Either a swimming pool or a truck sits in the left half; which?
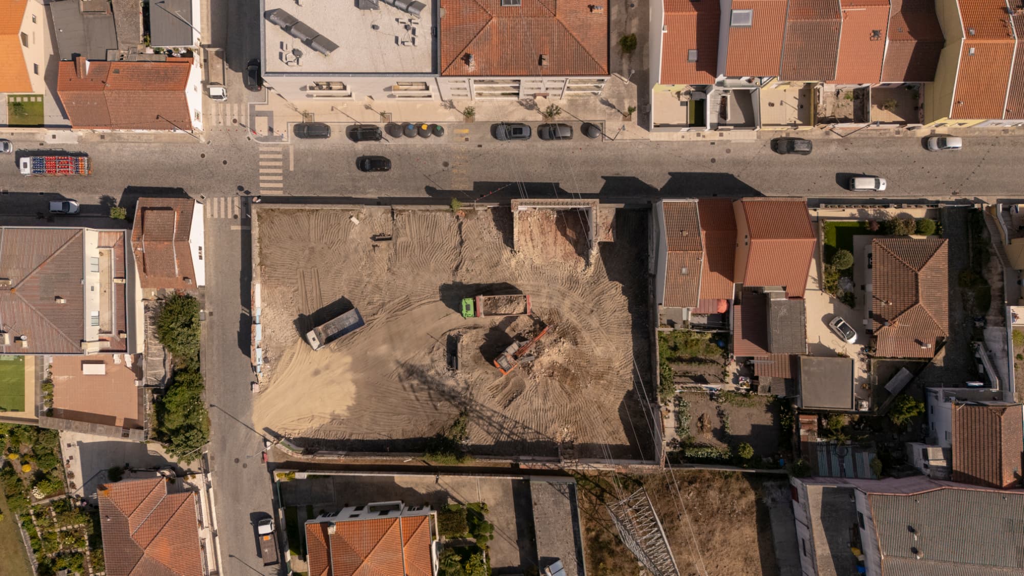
truck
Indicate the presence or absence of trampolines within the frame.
No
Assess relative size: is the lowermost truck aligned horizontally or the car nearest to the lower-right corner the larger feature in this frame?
the truck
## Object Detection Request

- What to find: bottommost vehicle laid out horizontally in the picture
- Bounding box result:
[461,295,536,319]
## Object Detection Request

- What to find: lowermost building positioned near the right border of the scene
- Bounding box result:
[844,474,1024,576]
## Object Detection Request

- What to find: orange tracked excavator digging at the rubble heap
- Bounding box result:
[488,312,559,379]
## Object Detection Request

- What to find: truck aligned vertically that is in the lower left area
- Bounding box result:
[254,513,283,568]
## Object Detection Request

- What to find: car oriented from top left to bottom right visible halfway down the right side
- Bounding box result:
[827,312,859,348]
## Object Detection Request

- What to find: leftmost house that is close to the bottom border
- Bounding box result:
[97,469,218,576]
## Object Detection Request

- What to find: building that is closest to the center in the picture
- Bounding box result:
[511,198,624,269]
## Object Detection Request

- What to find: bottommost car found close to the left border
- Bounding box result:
[46,199,82,215]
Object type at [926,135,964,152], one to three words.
car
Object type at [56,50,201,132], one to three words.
house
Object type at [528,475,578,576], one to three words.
building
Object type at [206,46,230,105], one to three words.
truck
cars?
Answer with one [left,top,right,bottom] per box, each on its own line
[359,155,393,173]
[296,123,332,140]
[0,138,21,155]
[46,199,82,215]
[496,123,533,141]
[926,135,964,152]
[541,124,573,141]
[827,312,859,348]
[245,59,264,95]
[773,138,812,155]
[848,175,884,192]
[350,125,383,142]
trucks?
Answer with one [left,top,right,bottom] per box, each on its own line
[254,513,283,568]
[19,154,98,177]
[302,302,369,354]
[206,46,230,105]
[461,295,536,319]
